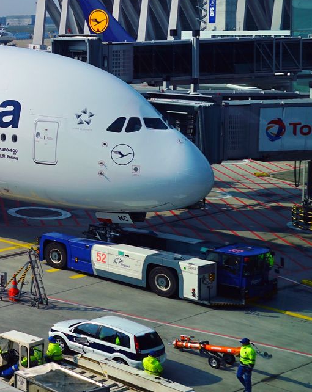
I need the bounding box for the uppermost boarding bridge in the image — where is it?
[42,18,296,87]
